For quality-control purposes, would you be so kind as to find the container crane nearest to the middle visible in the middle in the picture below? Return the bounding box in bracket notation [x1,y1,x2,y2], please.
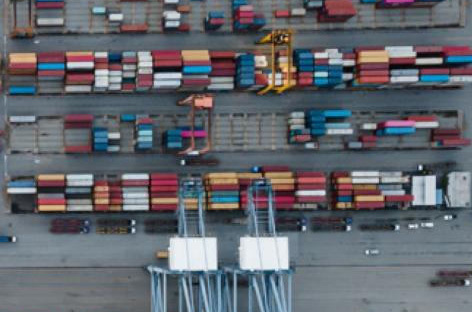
[175,95,214,156]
